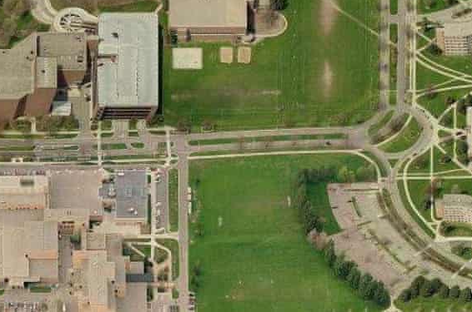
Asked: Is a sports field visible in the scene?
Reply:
Yes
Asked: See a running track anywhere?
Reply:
No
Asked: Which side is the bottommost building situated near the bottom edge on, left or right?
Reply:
left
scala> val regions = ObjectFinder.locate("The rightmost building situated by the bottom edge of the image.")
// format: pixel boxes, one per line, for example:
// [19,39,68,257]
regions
[73,233,155,312]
